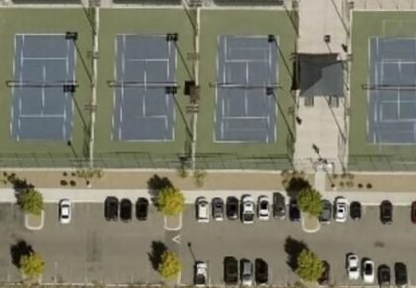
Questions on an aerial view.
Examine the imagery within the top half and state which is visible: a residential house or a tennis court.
tennis court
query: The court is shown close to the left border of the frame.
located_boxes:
[0,9,95,167]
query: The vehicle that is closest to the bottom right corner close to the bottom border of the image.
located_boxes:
[395,263,408,286]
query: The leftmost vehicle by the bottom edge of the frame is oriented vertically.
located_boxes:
[195,260,208,287]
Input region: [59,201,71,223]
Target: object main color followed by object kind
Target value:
white vehicle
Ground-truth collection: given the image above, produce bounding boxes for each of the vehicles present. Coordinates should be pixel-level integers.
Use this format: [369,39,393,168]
[289,200,301,223]
[318,262,329,284]
[120,200,133,222]
[411,202,416,224]
[59,201,71,223]
[241,261,253,284]
[395,263,408,286]
[227,198,240,221]
[335,199,347,222]
[212,200,224,220]
[320,202,332,225]
[380,201,392,224]
[136,198,149,222]
[256,260,269,283]
[273,196,286,219]
[346,255,359,279]
[195,260,208,287]
[106,198,119,221]
[378,264,390,287]
[362,260,374,283]
[349,201,361,222]
[225,259,238,283]
[242,197,255,223]
[197,201,209,221]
